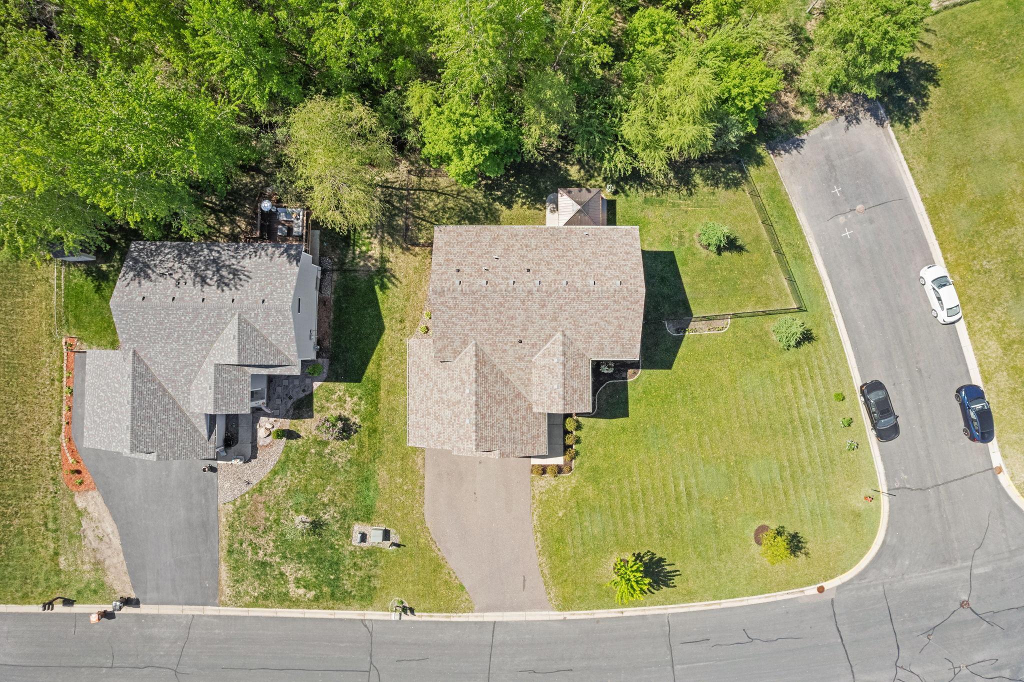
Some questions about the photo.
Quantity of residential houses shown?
2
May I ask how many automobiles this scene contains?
three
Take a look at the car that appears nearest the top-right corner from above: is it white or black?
white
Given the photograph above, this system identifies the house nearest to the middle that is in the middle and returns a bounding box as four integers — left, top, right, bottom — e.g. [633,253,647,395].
[406,224,645,459]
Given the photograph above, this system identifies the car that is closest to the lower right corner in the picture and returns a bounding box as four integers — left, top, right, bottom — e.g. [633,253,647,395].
[956,383,996,444]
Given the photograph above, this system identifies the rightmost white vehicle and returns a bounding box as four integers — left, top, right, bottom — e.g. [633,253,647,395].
[920,264,962,324]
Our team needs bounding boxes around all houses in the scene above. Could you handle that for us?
[406,224,645,459]
[84,242,321,460]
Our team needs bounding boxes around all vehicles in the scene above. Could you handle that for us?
[956,383,996,444]
[920,264,962,324]
[861,381,900,442]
